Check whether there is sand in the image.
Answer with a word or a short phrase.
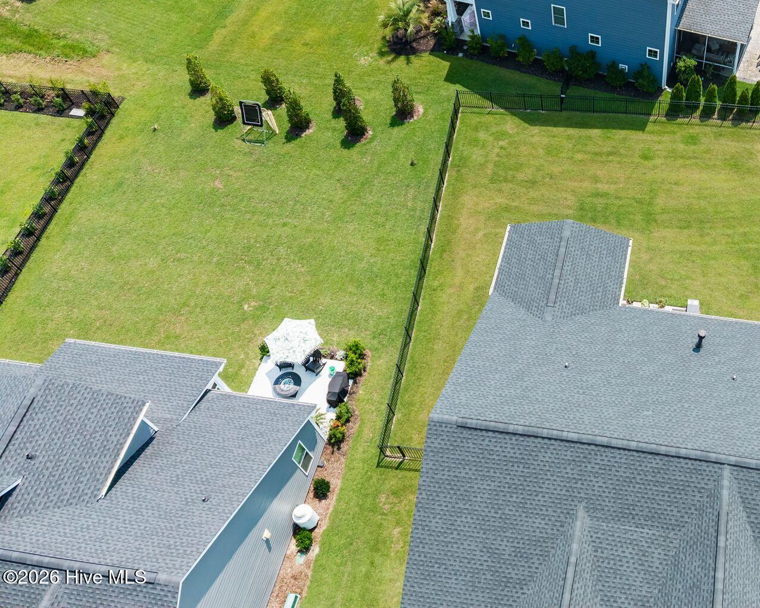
No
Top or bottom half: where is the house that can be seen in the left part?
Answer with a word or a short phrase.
bottom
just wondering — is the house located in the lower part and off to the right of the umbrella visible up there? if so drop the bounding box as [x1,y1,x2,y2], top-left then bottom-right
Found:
[397,221,760,608]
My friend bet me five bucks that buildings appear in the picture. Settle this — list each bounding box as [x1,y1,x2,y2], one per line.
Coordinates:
[0,339,326,608]
[438,0,758,90]
[397,221,760,608]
